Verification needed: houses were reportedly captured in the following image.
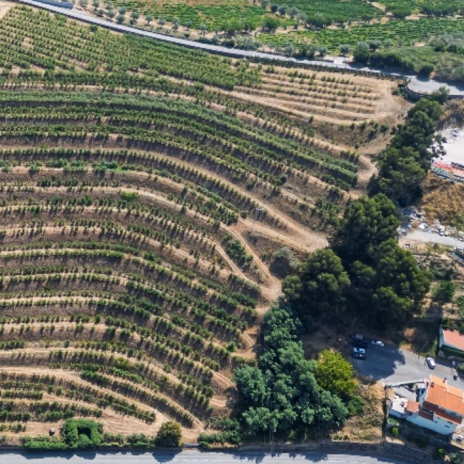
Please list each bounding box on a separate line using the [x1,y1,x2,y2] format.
[368,374,463,439]
[435,332,464,366]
